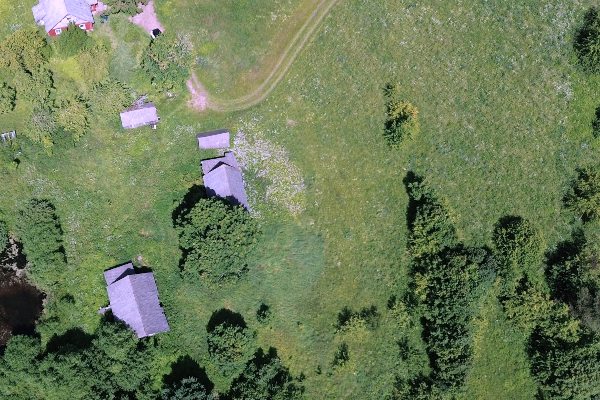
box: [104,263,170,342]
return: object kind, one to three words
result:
barn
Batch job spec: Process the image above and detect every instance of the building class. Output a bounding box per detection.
[32,0,98,38]
[200,152,249,219]
[196,129,229,150]
[120,101,157,130]
[104,263,170,342]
